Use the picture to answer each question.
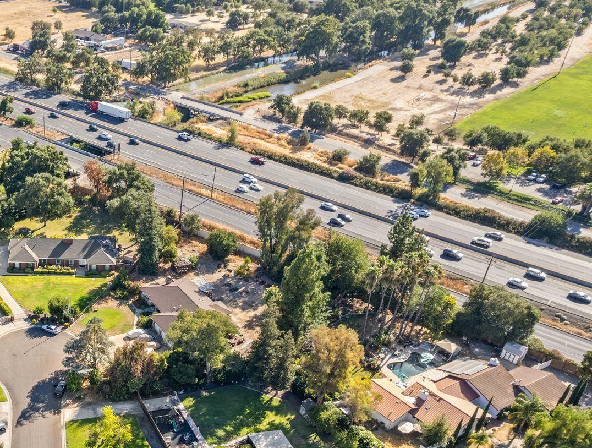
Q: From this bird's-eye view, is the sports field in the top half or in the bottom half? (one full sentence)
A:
It is in the top half that the sports field appears.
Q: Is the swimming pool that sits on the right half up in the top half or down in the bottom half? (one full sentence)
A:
You can find the swimming pool that sits on the right half in the bottom half.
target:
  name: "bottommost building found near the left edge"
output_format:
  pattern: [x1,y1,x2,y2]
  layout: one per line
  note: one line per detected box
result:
[9,234,117,274]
